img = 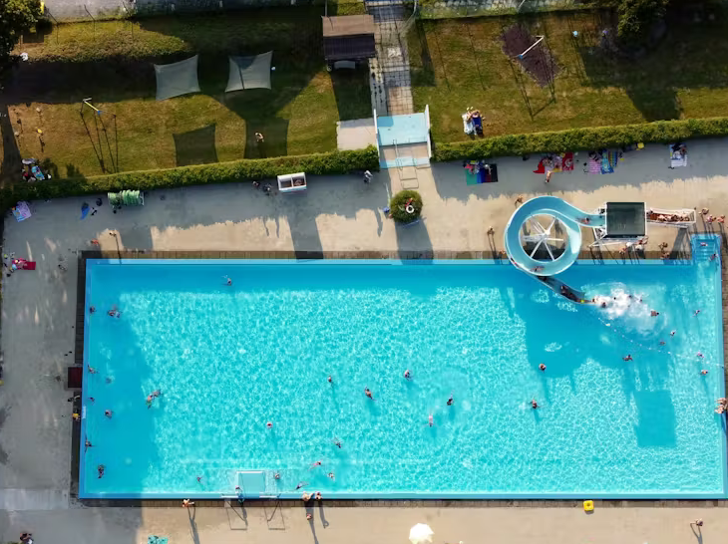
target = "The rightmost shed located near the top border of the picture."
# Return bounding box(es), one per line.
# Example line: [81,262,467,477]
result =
[320,14,374,62]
